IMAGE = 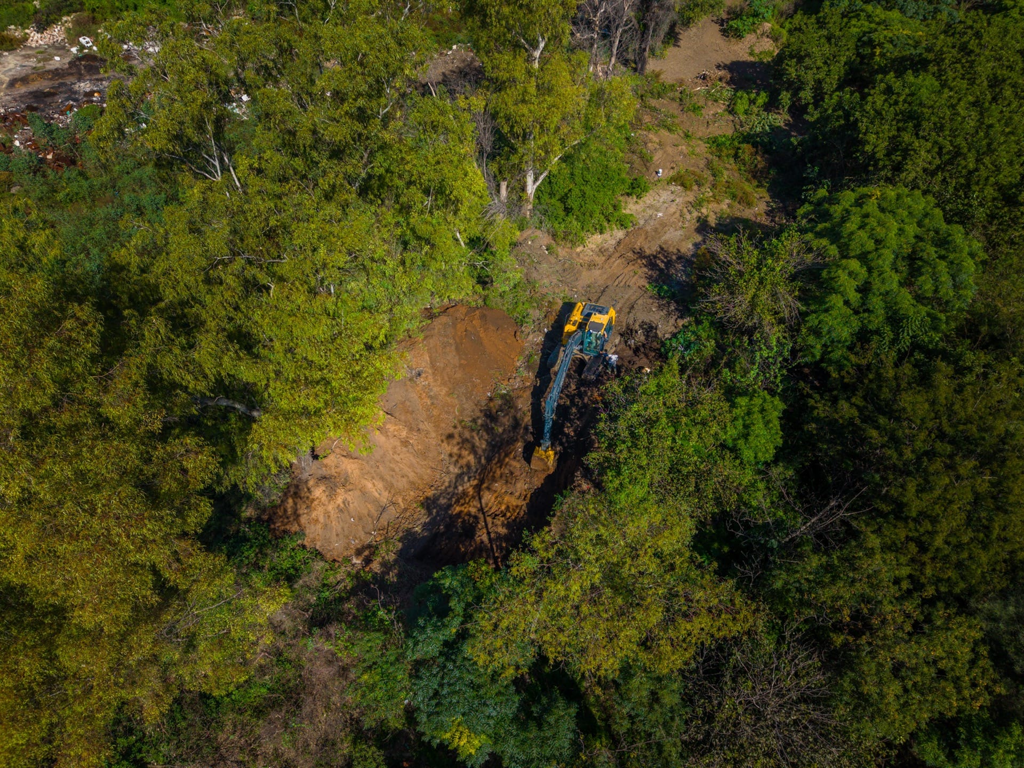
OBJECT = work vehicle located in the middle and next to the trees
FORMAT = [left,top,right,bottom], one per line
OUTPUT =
[535,301,613,465]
